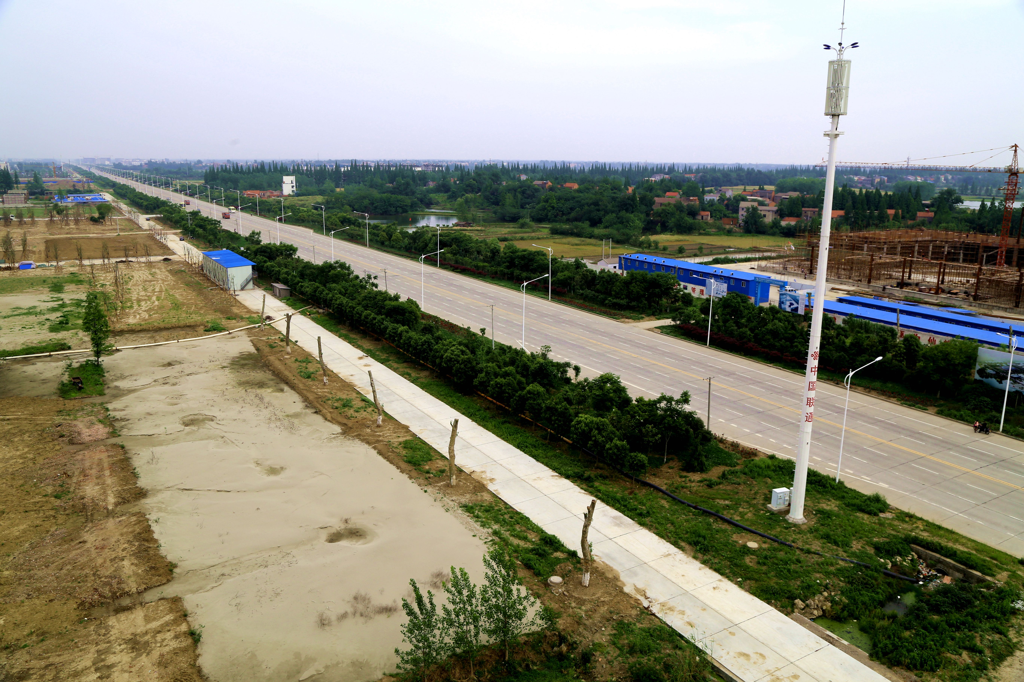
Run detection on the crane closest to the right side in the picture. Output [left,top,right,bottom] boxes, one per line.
[815,143,1024,262]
